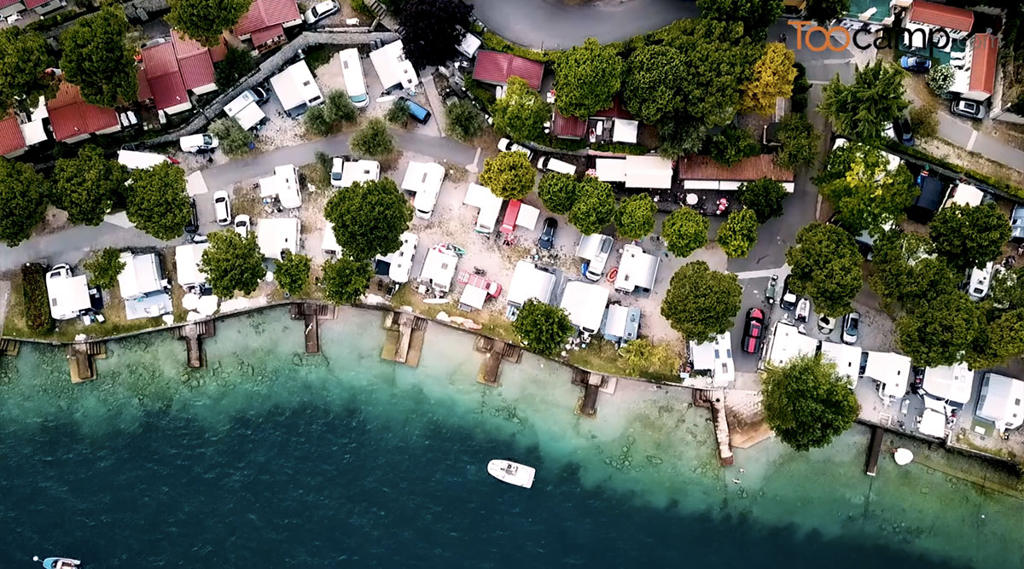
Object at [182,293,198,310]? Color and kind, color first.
white umbrella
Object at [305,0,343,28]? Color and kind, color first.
white car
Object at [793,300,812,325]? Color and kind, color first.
white boat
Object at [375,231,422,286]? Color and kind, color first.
white camper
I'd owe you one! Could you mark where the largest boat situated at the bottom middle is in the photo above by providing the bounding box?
[487,460,538,490]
